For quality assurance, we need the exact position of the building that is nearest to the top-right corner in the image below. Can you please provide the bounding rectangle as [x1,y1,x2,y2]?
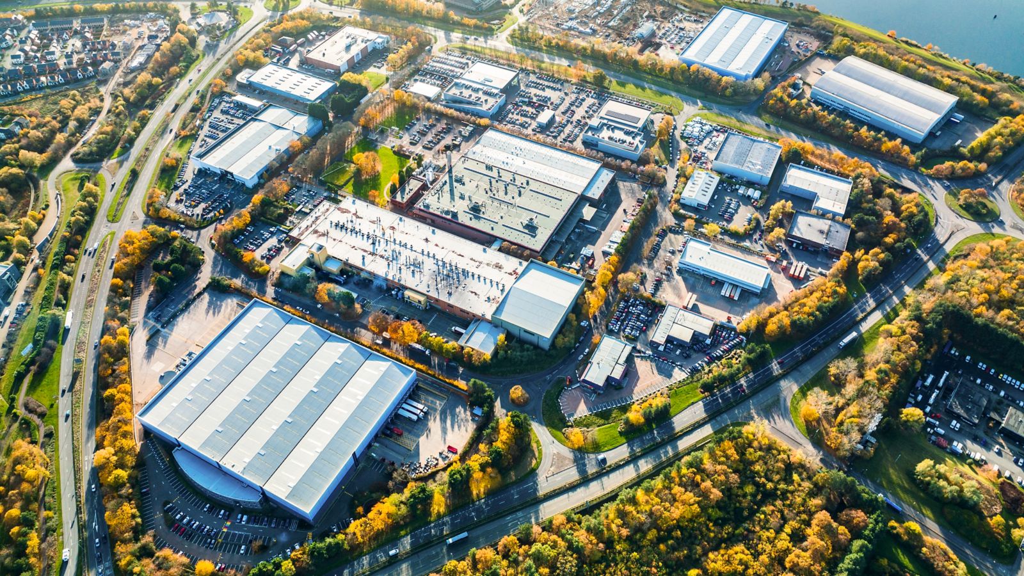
[809,57,960,140]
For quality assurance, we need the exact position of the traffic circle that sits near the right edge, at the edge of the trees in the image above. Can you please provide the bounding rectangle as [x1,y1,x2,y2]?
[924,178,1024,236]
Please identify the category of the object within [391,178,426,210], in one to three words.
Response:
house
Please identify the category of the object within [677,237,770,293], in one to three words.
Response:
building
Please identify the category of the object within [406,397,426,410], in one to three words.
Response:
vehicle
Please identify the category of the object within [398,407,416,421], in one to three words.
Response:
vehicle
